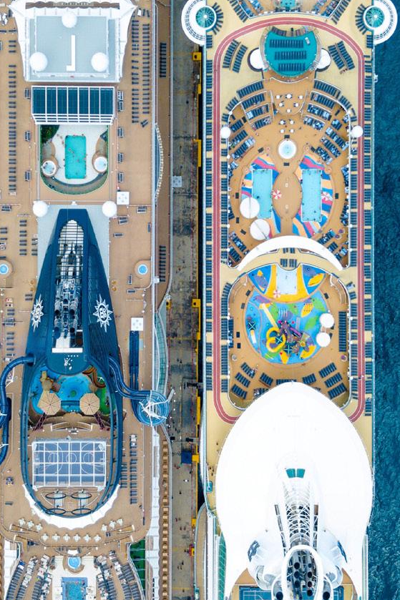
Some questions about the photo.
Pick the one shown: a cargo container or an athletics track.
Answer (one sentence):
Of the two, only an athletics track appears.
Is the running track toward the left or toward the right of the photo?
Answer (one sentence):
The running track appears in the right half of the scene.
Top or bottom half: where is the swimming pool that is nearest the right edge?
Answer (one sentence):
You can find the swimming pool that is nearest the right edge in the top half.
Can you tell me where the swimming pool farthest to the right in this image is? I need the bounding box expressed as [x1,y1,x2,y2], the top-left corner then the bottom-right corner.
[293,155,334,237]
